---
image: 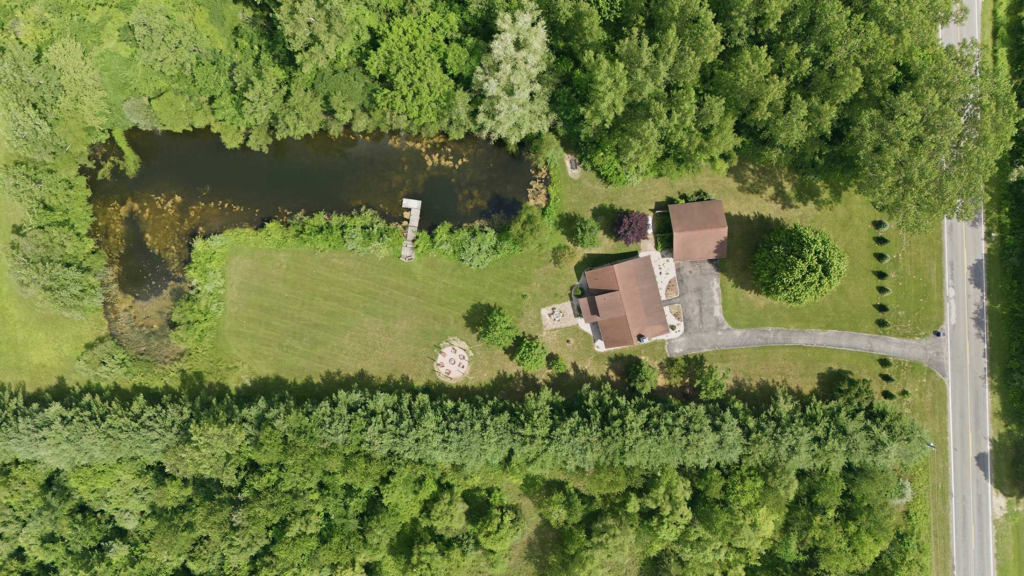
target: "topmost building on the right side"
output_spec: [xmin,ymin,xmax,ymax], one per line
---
[667,199,728,262]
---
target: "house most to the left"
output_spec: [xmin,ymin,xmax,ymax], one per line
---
[578,256,669,350]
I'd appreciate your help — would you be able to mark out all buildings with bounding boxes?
[578,256,669,350]
[667,199,728,262]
